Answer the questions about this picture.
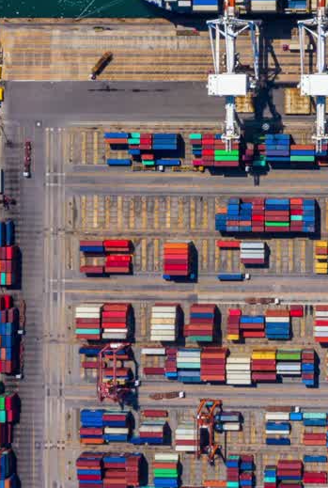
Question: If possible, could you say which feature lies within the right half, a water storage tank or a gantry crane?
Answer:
gantry crane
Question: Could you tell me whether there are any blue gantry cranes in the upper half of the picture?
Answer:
No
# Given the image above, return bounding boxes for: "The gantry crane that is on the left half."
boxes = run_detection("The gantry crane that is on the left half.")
[99,339,129,397]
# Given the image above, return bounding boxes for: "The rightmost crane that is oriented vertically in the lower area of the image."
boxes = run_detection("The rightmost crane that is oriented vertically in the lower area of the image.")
[196,389,222,454]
